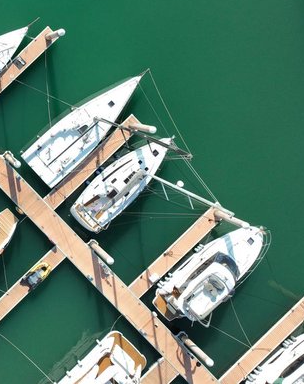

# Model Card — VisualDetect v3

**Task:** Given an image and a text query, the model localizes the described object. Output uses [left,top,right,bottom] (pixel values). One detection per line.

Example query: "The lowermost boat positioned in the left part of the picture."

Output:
[50,329,146,384]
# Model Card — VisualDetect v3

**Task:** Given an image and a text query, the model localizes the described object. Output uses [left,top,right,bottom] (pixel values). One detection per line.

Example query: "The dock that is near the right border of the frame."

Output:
[216,293,304,384]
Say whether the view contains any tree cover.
No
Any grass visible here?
No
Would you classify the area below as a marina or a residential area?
marina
